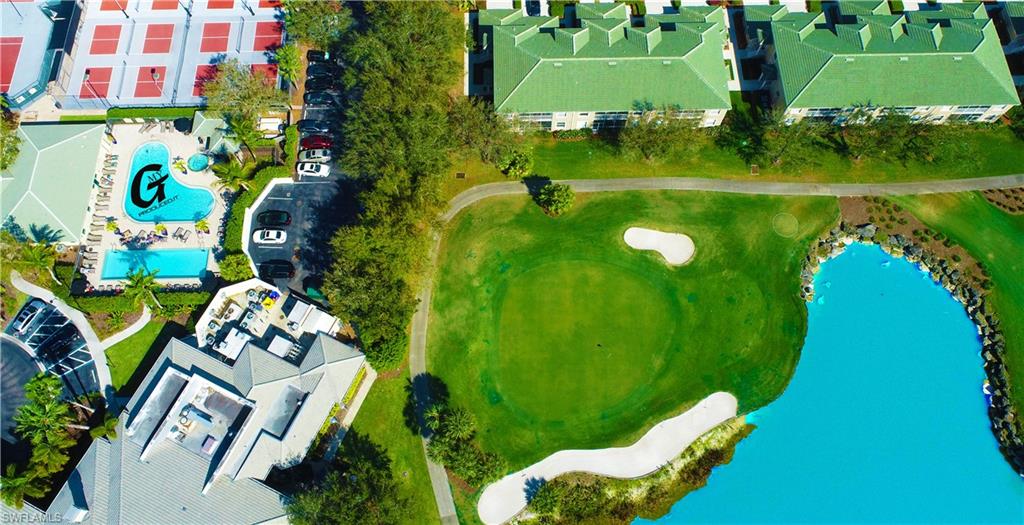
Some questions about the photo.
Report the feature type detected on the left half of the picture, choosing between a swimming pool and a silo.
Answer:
swimming pool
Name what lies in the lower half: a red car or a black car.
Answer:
black car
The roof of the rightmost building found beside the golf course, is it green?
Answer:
Yes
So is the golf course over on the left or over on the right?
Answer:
right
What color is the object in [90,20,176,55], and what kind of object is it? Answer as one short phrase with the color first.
red sports court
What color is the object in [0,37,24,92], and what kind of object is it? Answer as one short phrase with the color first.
red tennis court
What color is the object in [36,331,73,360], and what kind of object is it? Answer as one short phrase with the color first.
black car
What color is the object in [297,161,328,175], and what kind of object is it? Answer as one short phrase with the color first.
white car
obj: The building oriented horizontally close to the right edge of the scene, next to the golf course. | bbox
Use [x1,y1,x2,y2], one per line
[743,0,1022,129]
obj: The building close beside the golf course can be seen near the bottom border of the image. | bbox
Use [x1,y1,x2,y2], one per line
[0,331,364,525]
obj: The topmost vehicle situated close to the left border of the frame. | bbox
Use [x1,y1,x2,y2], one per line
[11,298,44,329]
